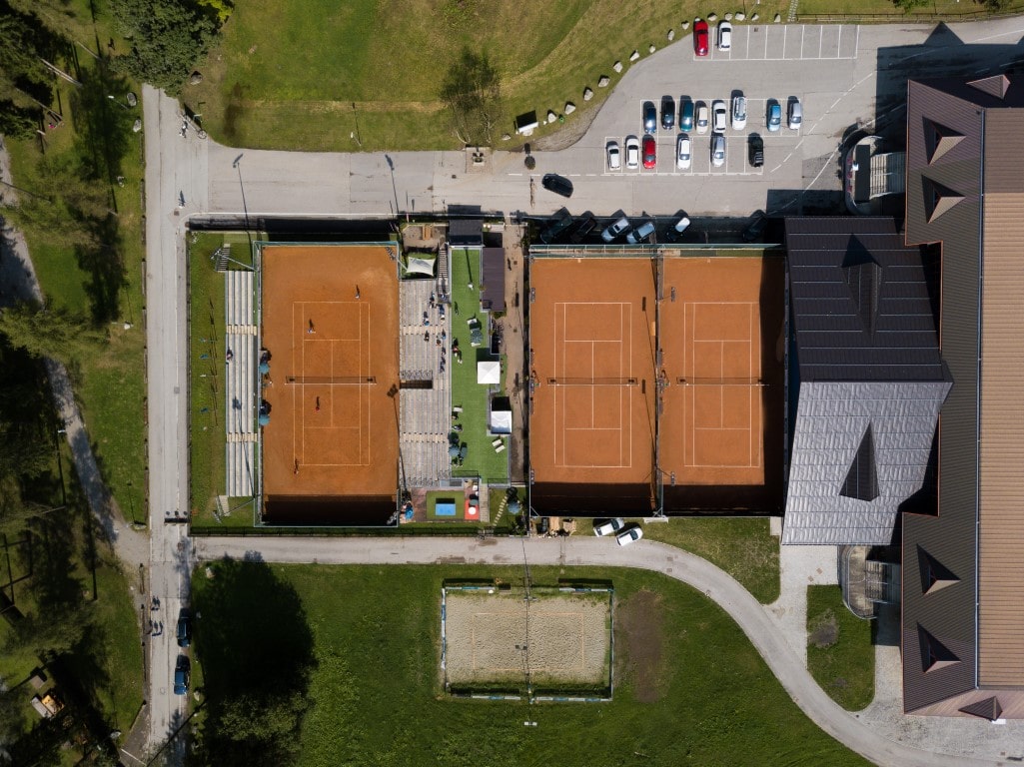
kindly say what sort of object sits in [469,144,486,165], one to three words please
fountain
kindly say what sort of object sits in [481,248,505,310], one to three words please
building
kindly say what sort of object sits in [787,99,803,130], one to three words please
car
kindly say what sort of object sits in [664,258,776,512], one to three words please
tennis court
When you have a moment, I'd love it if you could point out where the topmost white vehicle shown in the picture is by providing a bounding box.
[717,22,731,51]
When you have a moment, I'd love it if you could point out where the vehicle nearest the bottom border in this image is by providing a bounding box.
[173,662,190,695]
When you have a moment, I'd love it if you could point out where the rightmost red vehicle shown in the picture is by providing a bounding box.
[693,21,710,57]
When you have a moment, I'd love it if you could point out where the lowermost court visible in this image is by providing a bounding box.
[446,596,606,683]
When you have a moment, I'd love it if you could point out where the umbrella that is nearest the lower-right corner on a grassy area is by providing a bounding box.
[507,503,521,516]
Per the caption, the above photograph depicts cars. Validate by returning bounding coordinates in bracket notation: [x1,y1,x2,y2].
[602,216,630,240]
[730,93,748,130]
[712,101,728,134]
[695,105,711,132]
[679,97,695,131]
[710,134,727,168]
[787,99,803,130]
[693,21,710,57]
[593,518,626,538]
[175,614,193,647]
[665,214,691,241]
[766,103,782,132]
[173,662,190,695]
[642,139,657,168]
[613,523,646,549]
[747,135,765,168]
[569,215,598,244]
[717,22,731,51]
[605,142,620,169]
[542,175,575,196]
[624,137,640,169]
[627,220,655,243]
[660,98,676,127]
[675,135,692,168]
[642,102,658,132]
